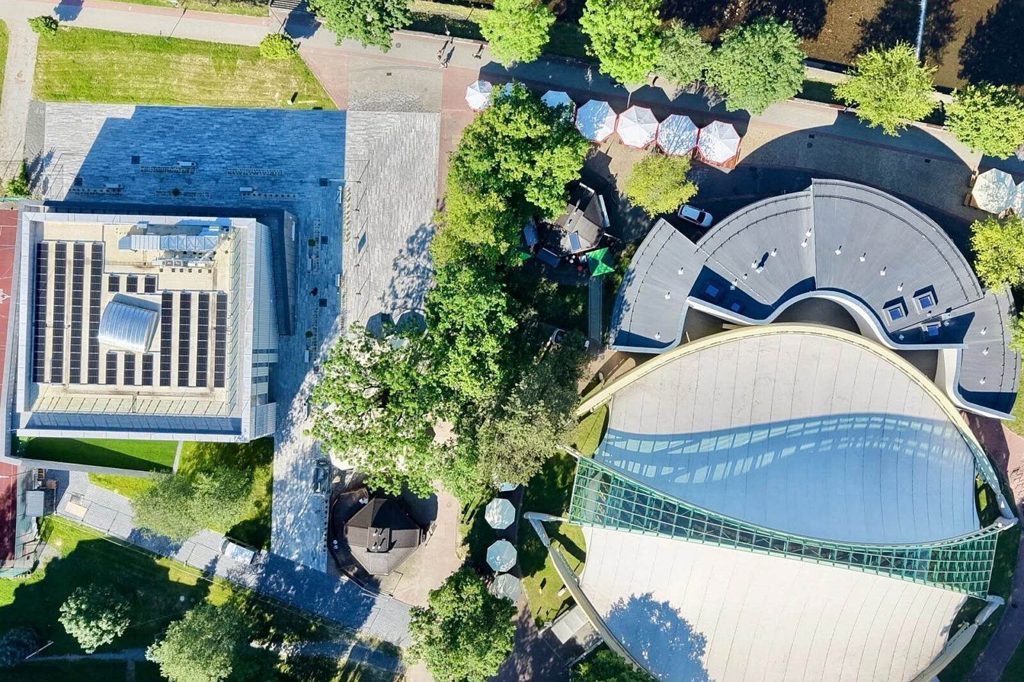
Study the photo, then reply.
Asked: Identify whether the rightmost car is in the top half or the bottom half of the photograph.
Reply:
top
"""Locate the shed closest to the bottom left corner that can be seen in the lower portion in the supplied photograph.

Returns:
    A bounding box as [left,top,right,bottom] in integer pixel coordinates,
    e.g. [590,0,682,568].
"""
[26,486,58,517]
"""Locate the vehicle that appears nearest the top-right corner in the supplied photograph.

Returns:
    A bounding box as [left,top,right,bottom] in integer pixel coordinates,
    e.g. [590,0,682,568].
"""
[680,203,716,226]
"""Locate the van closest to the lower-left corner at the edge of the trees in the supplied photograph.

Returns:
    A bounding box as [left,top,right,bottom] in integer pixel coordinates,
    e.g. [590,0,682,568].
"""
[215,539,257,570]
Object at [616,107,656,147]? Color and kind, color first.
white umbrella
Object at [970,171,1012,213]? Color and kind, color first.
white umbrella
